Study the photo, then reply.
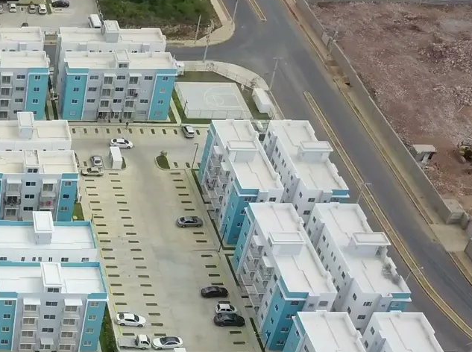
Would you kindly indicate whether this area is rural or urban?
urban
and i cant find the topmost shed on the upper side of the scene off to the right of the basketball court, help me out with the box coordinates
[251,90,274,111]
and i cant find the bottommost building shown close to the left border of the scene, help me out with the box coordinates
[0,262,110,352]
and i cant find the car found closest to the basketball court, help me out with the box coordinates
[179,124,197,139]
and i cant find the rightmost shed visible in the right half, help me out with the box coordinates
[439,196,472,223]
